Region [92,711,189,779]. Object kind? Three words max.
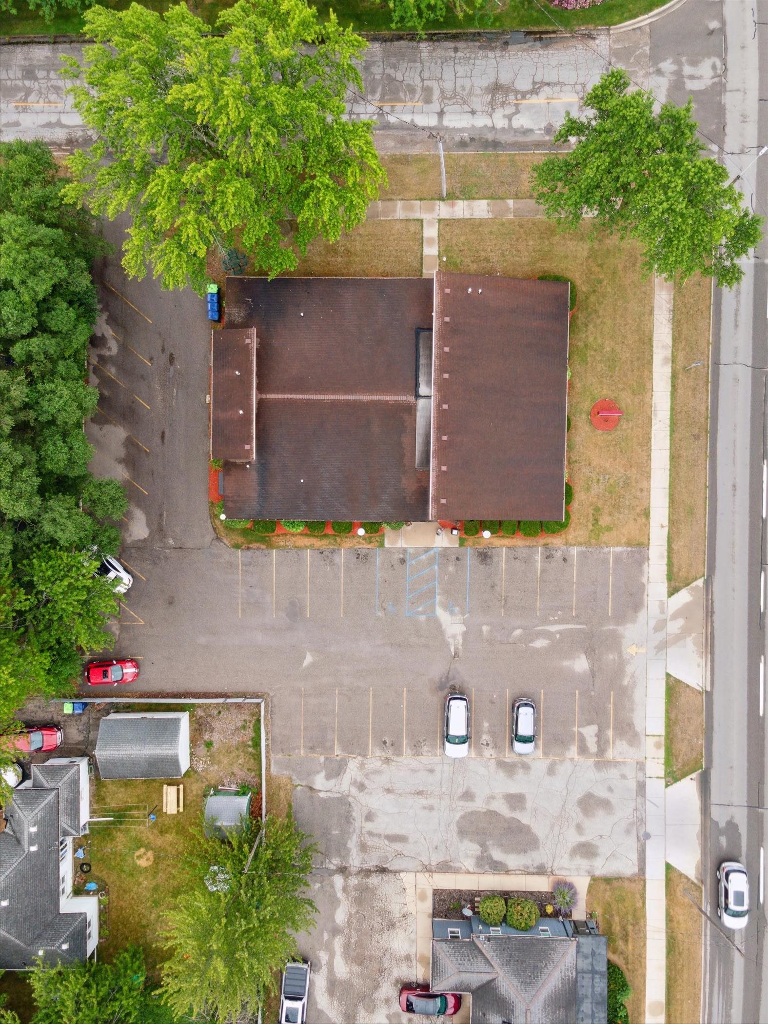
building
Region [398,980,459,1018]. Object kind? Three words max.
car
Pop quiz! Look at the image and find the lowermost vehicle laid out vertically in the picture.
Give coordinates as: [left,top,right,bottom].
[275,961,309,1024]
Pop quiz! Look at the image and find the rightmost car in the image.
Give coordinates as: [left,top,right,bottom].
[717,864,751,929]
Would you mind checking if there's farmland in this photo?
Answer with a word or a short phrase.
No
